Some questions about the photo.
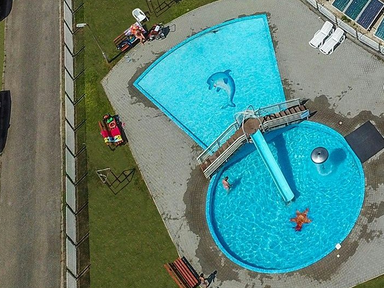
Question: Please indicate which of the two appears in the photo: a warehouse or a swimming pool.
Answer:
swimming pool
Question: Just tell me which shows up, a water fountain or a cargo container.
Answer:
water fountain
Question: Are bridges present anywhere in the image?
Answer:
Yes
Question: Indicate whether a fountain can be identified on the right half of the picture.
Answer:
Yes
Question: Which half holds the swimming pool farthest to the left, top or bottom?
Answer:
top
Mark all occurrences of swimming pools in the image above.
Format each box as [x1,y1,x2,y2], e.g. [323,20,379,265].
[207,120,367,274]
[135,14,285,159]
